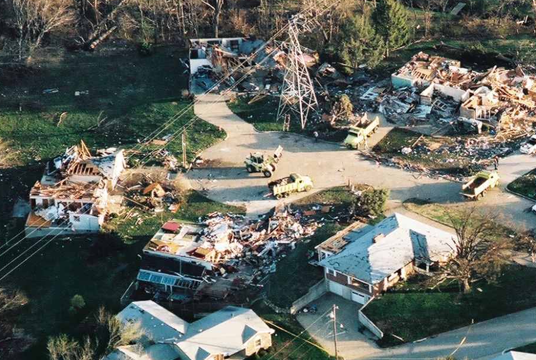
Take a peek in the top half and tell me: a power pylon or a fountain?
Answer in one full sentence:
You can see a power pylon in the top half.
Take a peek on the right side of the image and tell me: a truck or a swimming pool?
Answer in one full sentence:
It is a truck that can be seen on the right side of the image.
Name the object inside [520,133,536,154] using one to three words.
vehicle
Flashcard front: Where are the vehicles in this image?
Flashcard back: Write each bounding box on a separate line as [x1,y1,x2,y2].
[239,144,291,176]
[459,168,501,199]
[263,169,316,197]
[520,133,536,154]
[341,115,381,149]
